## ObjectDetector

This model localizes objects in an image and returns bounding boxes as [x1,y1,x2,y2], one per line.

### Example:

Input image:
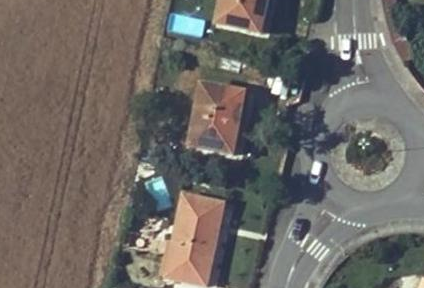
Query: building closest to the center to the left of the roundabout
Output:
[184,78,246,160]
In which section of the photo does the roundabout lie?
right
